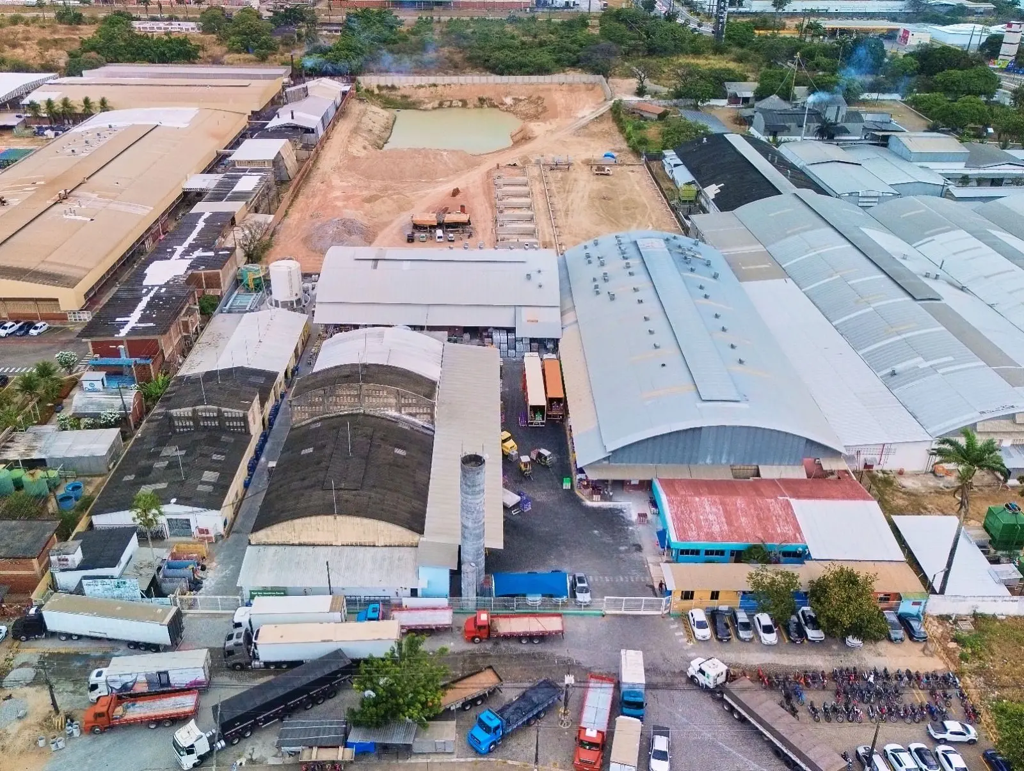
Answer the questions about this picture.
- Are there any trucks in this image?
Yes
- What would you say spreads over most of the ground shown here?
buildings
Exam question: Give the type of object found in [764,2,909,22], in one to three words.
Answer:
building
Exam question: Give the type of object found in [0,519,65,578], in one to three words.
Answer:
house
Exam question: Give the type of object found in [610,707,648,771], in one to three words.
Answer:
truck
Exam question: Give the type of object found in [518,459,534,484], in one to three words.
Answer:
work vehicle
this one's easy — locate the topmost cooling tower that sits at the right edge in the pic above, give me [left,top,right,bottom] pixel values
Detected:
[978,499,1024,548]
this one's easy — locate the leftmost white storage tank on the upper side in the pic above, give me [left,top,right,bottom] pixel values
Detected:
[264,259,306,309]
